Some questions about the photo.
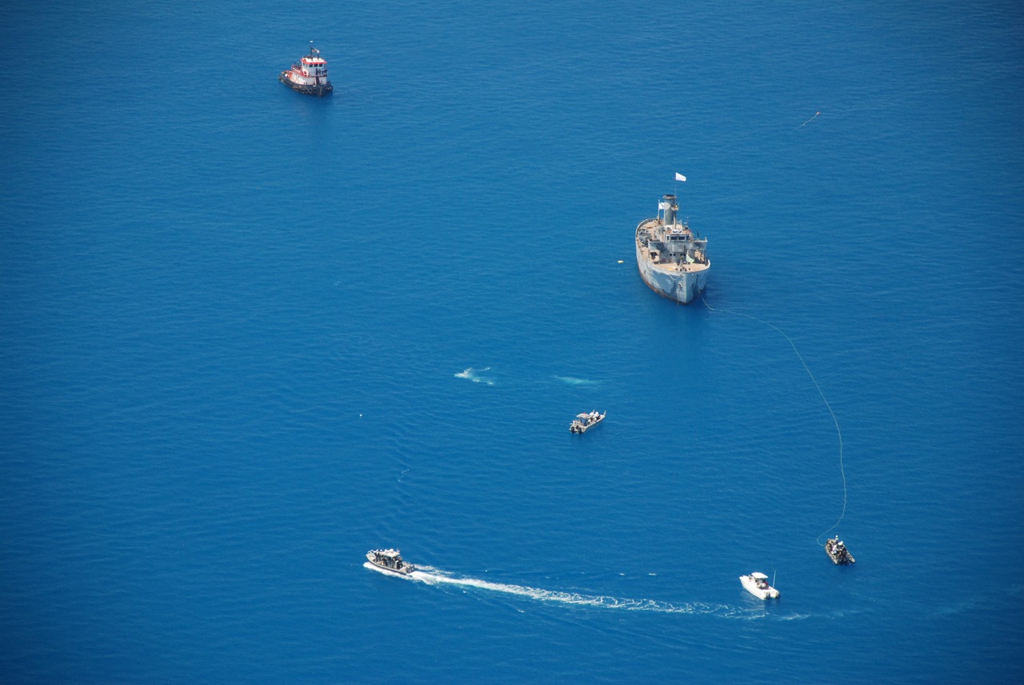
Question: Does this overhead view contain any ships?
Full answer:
Yes, a ship appears in the view.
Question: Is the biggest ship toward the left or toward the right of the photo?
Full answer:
The biggest ship is on the right side of the image.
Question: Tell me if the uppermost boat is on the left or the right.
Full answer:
The uppermost boat is on the left side of the image.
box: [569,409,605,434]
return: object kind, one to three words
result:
boat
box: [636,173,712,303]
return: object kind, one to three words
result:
ship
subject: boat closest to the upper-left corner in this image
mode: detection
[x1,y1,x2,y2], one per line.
[282,48,333,95]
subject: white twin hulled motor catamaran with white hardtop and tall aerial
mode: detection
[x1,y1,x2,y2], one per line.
[738,573,779,600]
